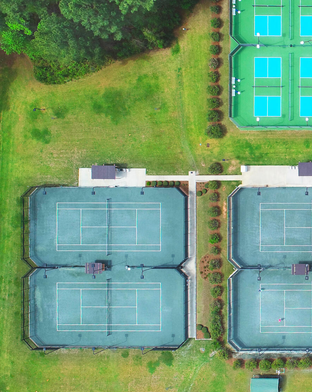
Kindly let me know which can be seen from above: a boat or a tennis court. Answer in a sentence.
The one in the frame is a tennis court.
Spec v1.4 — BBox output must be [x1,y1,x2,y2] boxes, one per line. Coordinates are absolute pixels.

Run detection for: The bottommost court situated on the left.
[29,268,184,348]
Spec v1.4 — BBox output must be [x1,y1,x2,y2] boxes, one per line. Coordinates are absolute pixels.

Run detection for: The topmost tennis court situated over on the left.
[29,188,184,268]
